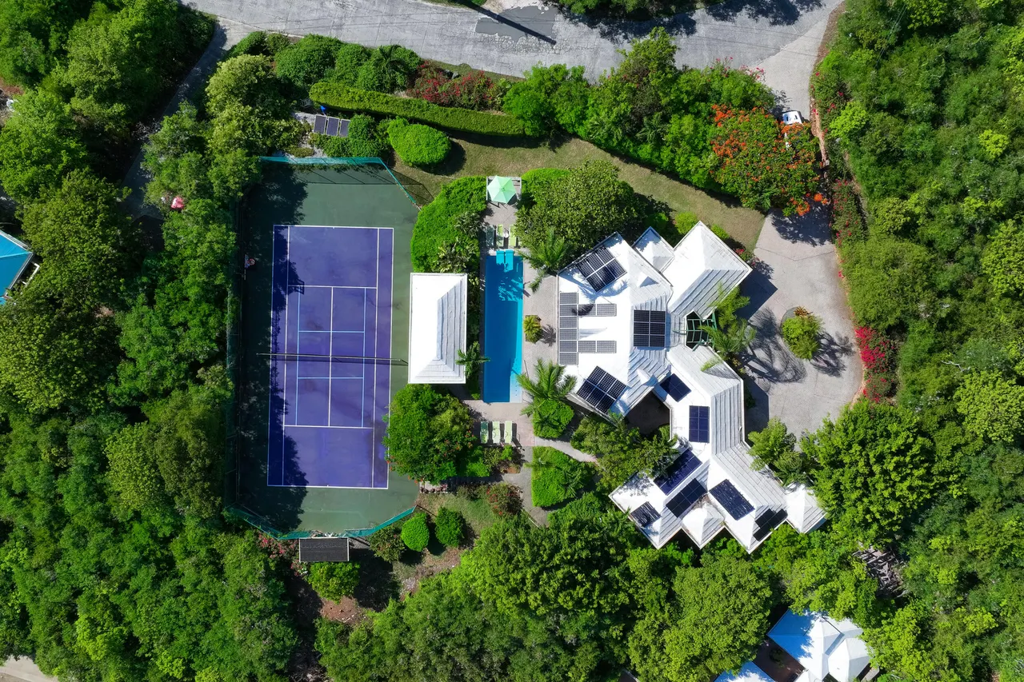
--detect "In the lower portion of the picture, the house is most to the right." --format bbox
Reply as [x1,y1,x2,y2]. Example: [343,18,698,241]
[761,602,871,682]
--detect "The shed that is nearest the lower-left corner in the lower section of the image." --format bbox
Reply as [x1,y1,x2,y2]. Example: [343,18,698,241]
[298,532,354,563]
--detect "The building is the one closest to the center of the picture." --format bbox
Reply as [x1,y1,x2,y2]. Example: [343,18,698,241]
[407,272,469,385]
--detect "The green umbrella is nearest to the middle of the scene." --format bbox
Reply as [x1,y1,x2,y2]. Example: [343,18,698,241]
[489,171,517,201]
